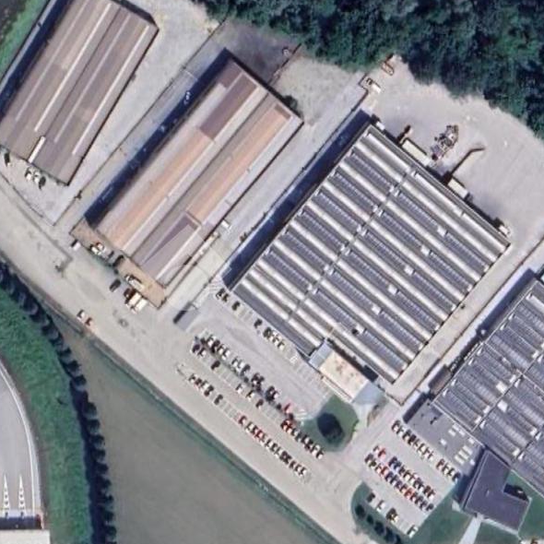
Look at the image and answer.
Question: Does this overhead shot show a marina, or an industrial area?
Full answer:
This image shows an industrial area.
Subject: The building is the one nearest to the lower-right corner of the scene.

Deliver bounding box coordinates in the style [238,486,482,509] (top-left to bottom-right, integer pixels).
[462,449,529,536]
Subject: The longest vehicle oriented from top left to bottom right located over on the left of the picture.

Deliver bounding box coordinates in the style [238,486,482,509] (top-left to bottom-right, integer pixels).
[125,275,143,289]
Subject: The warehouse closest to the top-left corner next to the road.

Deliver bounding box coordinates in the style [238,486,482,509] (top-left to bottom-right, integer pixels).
[0,0,160,184]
